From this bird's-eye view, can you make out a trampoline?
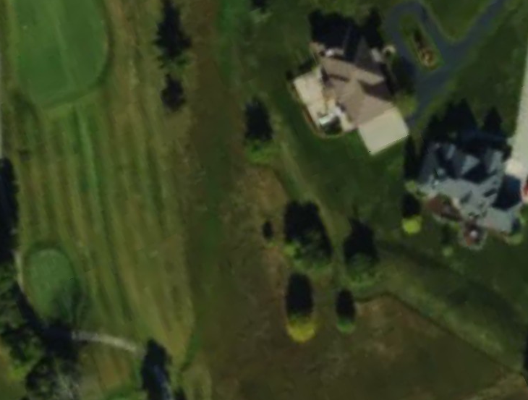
No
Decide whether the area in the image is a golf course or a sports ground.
golf course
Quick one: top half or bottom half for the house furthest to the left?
top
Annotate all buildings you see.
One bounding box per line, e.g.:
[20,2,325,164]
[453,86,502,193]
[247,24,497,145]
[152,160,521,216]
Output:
[312,31,396,128]
[417,139,526,226]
